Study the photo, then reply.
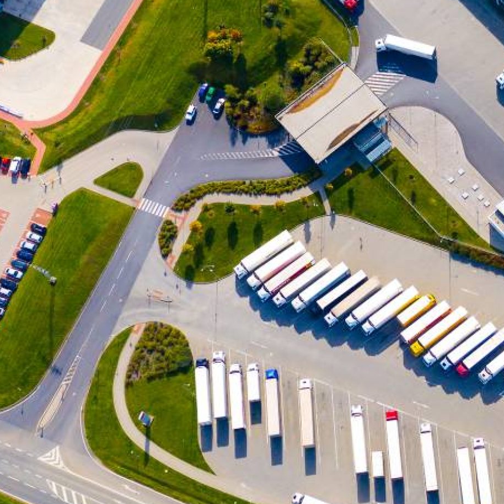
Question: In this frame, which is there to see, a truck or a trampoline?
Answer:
truck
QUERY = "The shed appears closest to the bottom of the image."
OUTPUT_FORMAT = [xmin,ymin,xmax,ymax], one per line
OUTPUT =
[485,209,504,239]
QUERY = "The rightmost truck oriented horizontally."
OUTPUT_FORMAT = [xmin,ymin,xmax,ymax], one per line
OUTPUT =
[376,40,438,62]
